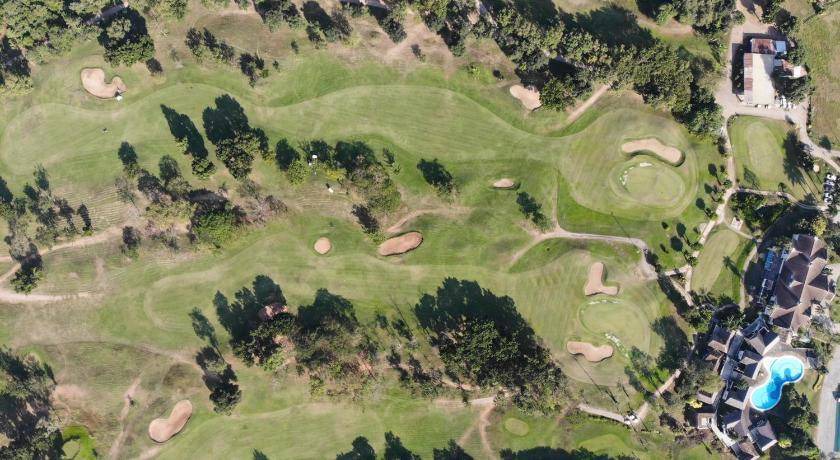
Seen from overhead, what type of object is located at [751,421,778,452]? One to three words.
house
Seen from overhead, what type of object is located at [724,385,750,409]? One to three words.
house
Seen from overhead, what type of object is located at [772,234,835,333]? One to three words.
building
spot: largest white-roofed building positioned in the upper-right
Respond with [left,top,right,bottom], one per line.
[739,53,774,107]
